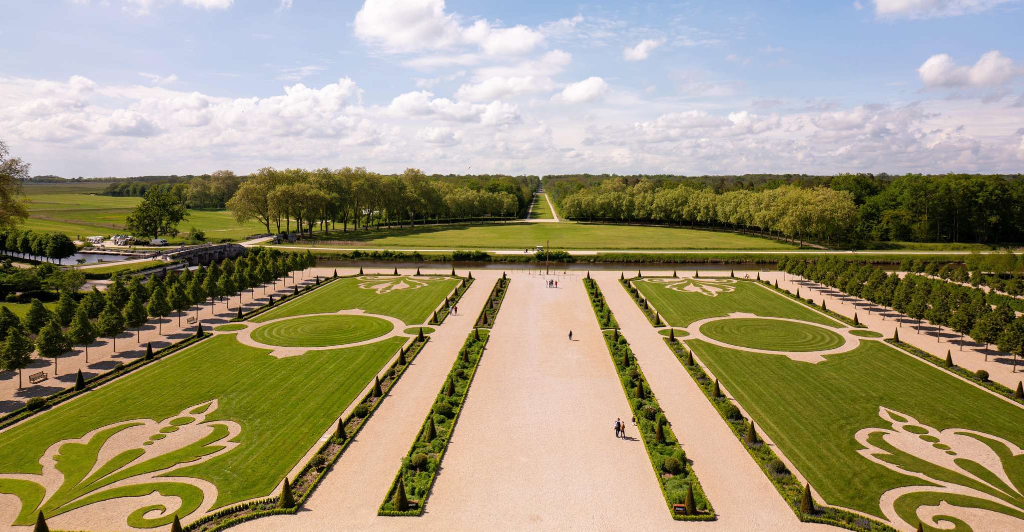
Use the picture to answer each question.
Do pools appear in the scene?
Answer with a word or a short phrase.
No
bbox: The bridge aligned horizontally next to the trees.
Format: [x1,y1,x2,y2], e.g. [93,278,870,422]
[154,242,253,262]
